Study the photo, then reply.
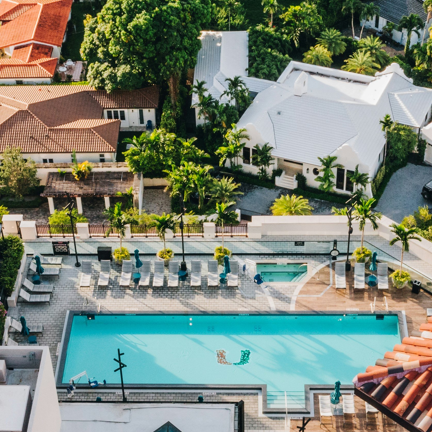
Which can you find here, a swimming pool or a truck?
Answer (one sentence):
Looking from above, you can make out a swimming pool.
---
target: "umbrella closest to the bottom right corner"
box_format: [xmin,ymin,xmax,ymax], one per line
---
[330,381,343,416]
